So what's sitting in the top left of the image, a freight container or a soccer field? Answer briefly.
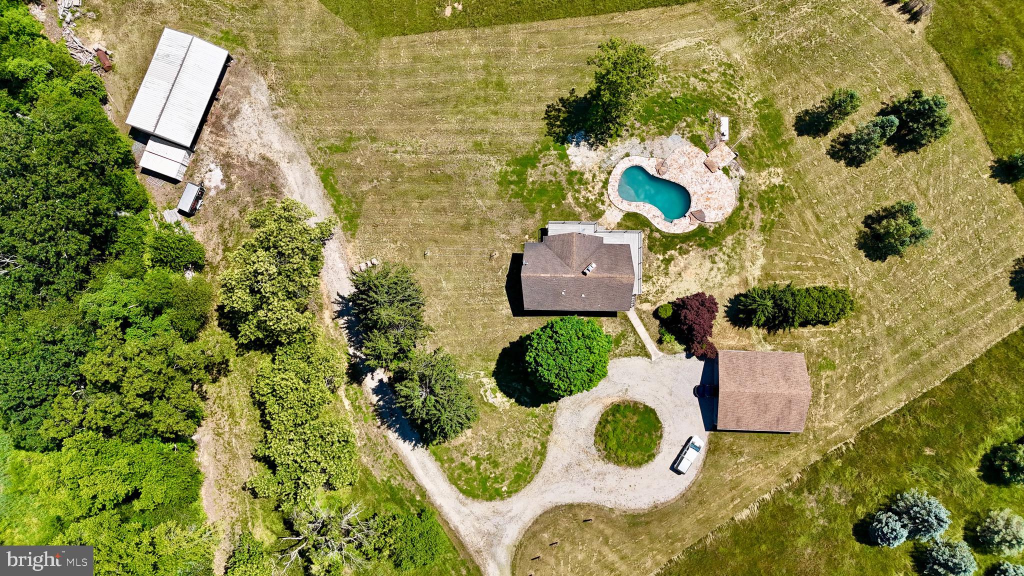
freight container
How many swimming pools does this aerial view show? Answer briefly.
1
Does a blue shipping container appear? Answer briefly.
No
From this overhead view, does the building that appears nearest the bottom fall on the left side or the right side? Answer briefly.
right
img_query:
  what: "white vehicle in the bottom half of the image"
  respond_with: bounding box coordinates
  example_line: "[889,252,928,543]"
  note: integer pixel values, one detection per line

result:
[673,435,702,476]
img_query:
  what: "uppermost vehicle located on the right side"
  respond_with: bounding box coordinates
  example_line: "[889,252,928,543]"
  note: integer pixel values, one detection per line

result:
[693,385,719,399]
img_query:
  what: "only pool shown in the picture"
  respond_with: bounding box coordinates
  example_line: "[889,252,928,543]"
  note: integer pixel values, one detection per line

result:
[618,166,691,221]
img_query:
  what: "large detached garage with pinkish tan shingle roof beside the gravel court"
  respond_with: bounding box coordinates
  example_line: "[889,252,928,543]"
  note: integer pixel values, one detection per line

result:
[717,350,811,432]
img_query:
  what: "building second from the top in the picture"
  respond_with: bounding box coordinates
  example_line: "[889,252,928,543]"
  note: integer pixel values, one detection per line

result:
[521,232,635,312]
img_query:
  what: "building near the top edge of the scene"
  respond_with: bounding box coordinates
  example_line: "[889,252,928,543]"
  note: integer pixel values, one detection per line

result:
[125,28,236,150]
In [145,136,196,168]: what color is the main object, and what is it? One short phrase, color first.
white shipping container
